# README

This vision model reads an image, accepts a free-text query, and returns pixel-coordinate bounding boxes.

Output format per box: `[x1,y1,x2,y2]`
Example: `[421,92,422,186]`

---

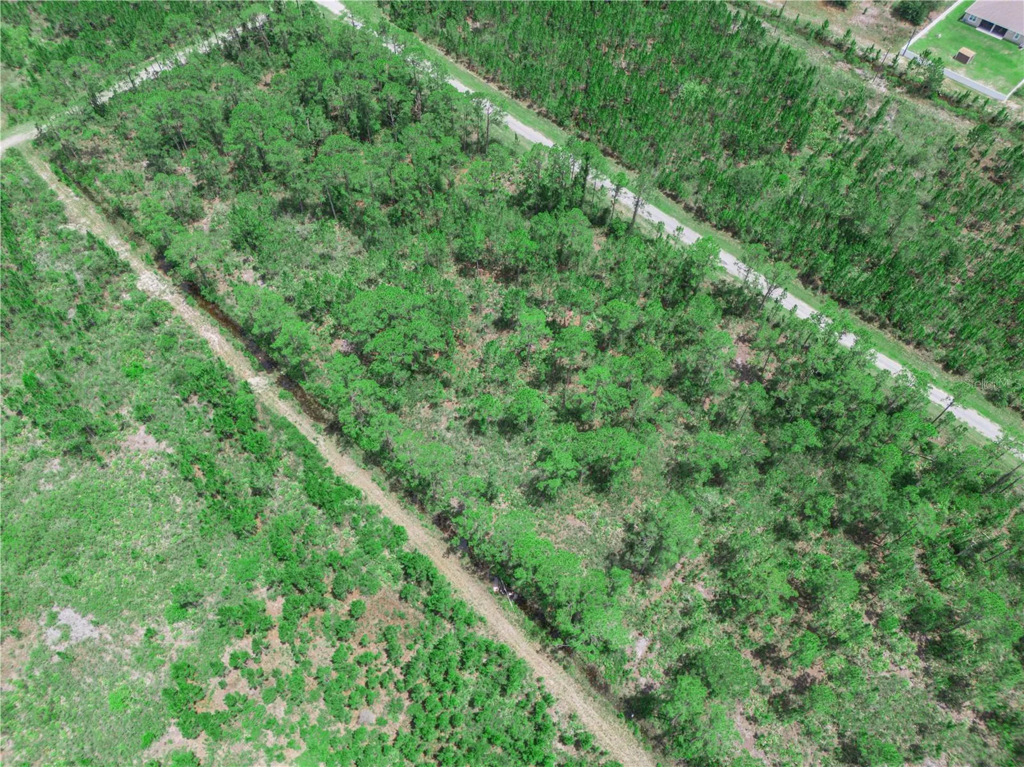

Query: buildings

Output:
[963,0,1024,44]
[958,44,978,63]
